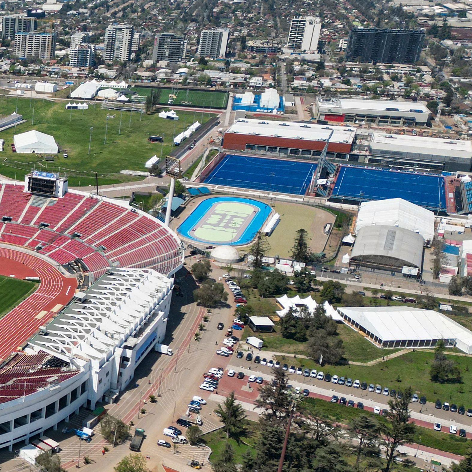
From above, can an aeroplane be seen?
No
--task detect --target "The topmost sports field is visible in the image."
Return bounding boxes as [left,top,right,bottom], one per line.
[105,86,228,106]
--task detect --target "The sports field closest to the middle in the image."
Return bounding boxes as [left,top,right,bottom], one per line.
[206,154,316,194]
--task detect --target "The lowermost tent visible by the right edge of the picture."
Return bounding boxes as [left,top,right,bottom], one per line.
[338,308,472,349]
